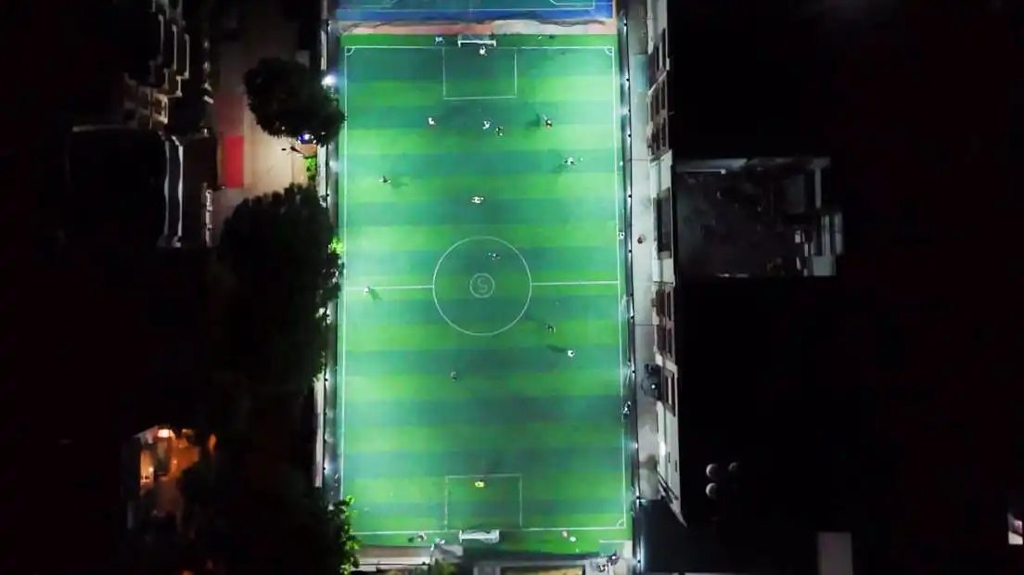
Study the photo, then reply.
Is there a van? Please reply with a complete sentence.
No, there appears to be no van in this shot.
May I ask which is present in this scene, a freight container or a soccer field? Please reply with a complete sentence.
The image shows a soccer field.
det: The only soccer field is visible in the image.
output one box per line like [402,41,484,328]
[338,34,631,549]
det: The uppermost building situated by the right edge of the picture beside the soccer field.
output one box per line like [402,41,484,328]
[646,0,1024,527]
